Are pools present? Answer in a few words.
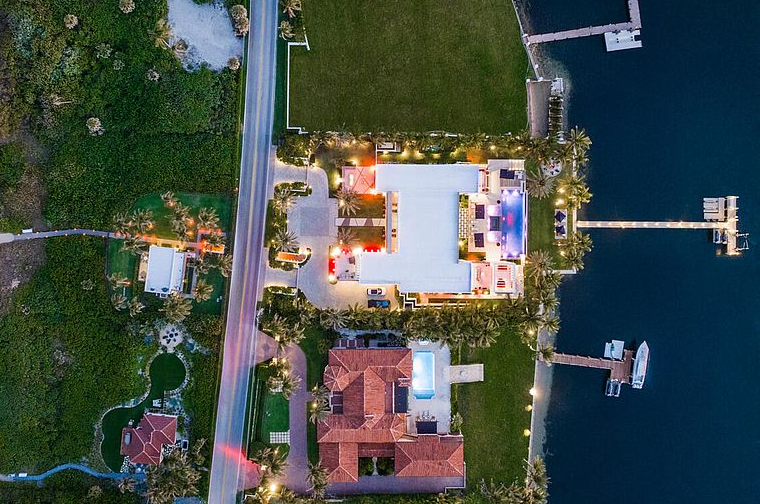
Yes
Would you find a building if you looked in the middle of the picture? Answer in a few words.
Yes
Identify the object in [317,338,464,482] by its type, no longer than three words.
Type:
house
